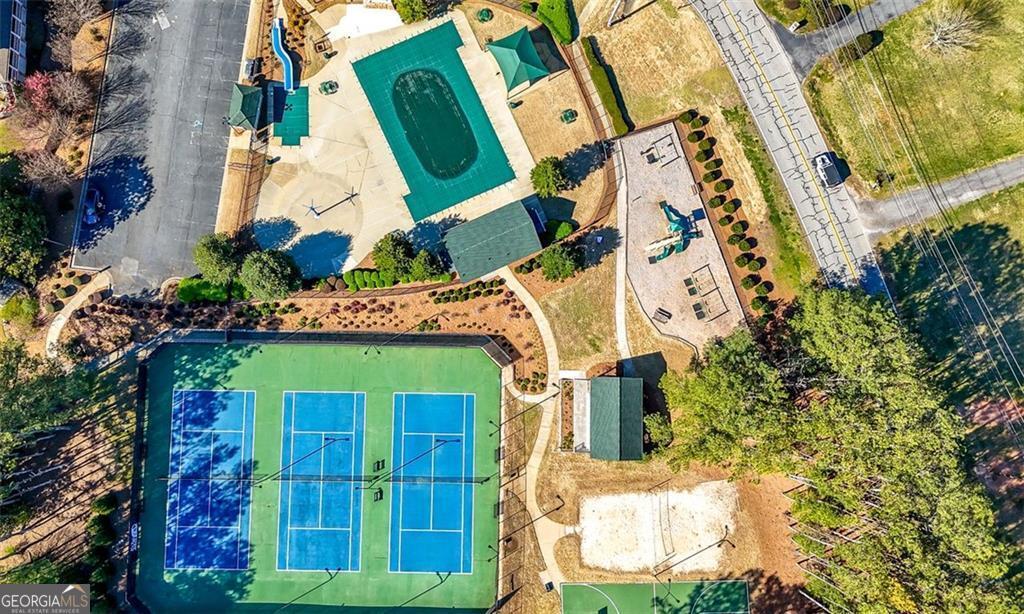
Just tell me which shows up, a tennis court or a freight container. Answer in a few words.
tennis court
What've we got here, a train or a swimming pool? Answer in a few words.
swimming pool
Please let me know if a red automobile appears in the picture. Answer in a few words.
No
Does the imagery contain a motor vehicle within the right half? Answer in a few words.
Yes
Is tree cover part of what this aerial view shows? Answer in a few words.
Yes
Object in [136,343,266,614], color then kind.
blue tennis court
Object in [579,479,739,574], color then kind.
white sports court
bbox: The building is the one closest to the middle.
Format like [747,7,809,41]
[445,200,542,282]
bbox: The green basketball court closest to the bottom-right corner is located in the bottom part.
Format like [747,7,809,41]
[562,580,750,614]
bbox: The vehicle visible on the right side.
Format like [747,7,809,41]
[816,152,844,187]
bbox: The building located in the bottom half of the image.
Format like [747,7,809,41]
[590,377,642,462]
